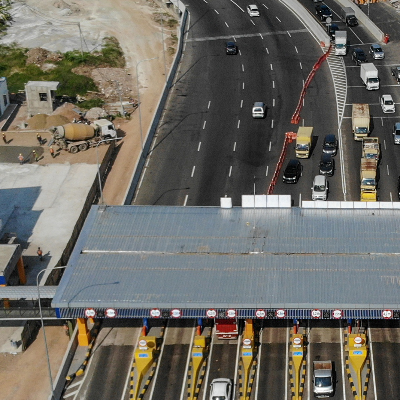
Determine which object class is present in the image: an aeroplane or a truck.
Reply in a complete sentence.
Of the two, only a truck appears.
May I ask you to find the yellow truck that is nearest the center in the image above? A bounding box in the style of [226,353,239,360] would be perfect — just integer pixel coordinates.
[293,126,314,160]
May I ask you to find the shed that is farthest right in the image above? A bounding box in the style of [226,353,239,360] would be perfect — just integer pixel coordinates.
[21,73,70,111]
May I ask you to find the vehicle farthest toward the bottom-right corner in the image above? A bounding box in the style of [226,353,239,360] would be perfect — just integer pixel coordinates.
[311,362,338,399]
